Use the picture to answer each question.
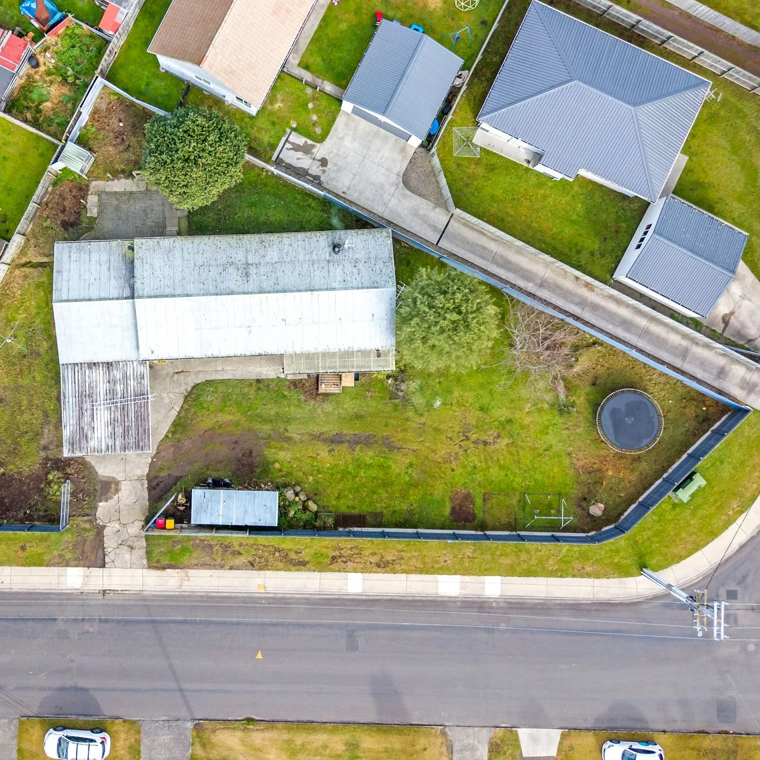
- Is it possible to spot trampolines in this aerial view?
Yes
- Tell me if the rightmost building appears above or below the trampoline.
above it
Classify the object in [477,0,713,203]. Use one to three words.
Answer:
house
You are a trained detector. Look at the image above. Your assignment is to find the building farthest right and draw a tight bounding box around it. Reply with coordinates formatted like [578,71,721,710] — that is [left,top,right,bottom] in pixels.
[611,194,750,319]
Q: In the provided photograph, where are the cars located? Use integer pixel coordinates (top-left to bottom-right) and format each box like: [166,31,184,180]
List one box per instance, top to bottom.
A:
[44,726,112,760]
[598,737,666,760]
